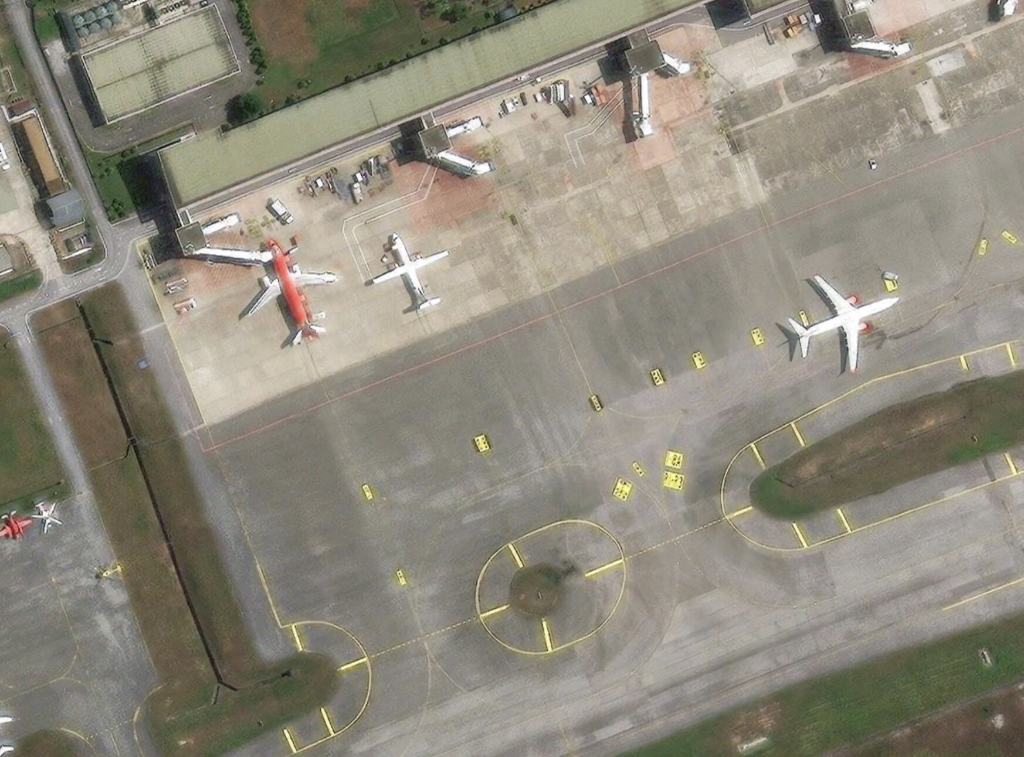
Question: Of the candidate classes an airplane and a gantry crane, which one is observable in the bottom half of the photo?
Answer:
airplane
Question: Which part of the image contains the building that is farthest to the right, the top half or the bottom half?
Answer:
top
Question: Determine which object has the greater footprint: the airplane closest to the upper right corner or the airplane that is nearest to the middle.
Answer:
the airplane closest to the upper right corner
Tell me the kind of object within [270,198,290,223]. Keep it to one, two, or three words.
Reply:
vehicle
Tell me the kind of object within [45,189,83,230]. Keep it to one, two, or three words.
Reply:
building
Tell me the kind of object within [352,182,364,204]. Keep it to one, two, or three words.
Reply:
vehicle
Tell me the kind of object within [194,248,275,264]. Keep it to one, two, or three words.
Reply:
jet bridge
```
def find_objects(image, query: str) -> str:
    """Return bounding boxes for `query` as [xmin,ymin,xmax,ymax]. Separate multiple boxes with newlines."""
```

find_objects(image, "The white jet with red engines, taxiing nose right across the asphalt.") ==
[786,274,899,374]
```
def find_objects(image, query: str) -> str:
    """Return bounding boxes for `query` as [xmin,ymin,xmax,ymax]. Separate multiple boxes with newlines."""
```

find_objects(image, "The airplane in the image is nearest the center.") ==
[373,234,445,306]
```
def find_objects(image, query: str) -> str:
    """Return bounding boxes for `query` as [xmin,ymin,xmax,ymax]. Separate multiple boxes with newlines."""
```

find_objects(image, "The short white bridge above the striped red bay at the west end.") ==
[200,209,244,234]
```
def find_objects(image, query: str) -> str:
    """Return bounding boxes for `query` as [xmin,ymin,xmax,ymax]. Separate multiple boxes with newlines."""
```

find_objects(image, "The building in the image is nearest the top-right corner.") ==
[833,0,876,47]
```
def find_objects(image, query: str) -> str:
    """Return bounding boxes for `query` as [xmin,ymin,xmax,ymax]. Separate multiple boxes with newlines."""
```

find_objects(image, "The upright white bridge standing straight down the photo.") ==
[635,71,654,137]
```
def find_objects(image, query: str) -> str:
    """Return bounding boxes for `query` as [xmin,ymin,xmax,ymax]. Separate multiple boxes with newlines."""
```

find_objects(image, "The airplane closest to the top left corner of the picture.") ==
[247,241,343,350]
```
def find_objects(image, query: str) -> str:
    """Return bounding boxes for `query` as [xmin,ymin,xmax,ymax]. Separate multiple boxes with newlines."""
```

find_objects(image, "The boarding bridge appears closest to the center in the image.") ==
[435,152,493,174]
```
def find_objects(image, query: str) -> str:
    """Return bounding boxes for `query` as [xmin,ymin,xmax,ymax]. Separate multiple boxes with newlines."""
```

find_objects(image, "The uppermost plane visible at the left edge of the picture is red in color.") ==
[0,511,33,538]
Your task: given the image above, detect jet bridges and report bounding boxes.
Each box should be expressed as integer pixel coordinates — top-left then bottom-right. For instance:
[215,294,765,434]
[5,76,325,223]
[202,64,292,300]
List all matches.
[849,0,881,10]
[661,51,693,75]
[194,248,275,264]
[635,71,654,137]
[997,0,1013,17]
[446,115,484,137]
[435,152,493,174]
[849,41,913,57]
[200,209,244,234]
